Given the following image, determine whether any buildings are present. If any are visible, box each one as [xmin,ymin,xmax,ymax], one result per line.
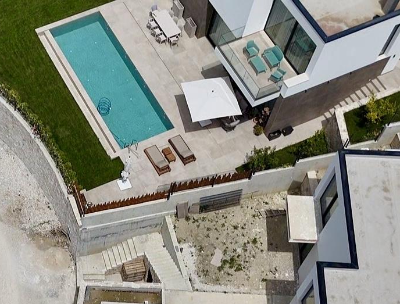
[170,0,400,137]
[286,148,400,304]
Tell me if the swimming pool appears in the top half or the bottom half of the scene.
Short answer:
top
